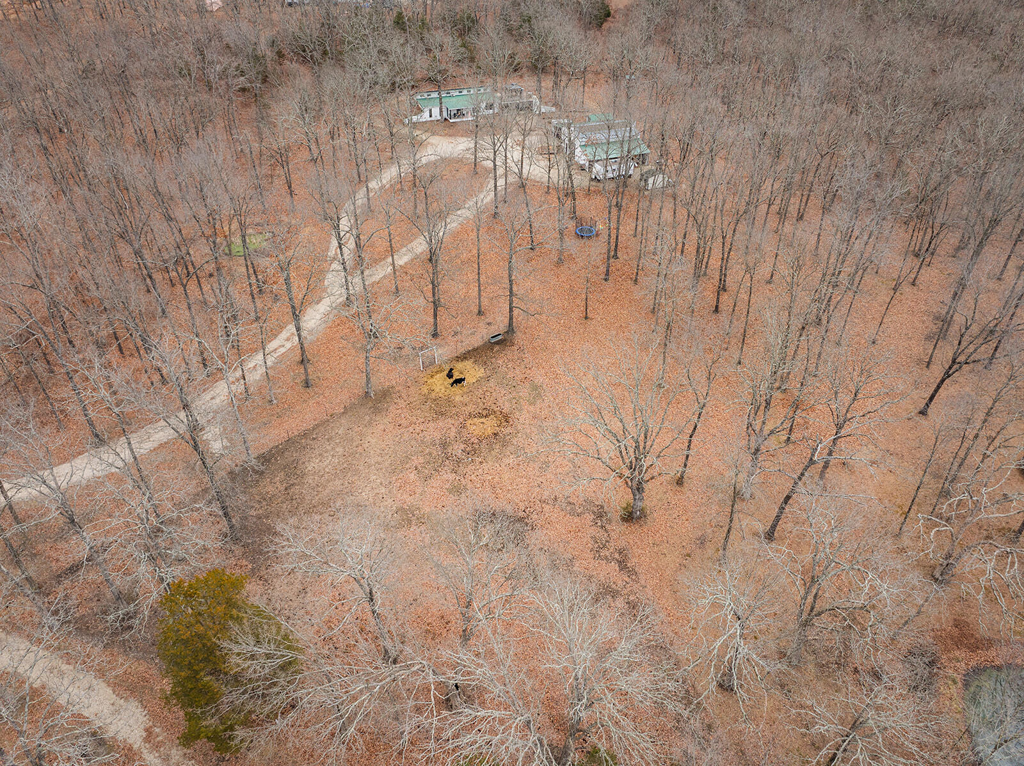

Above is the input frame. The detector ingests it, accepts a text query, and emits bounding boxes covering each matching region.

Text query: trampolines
[575,217,596,240]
